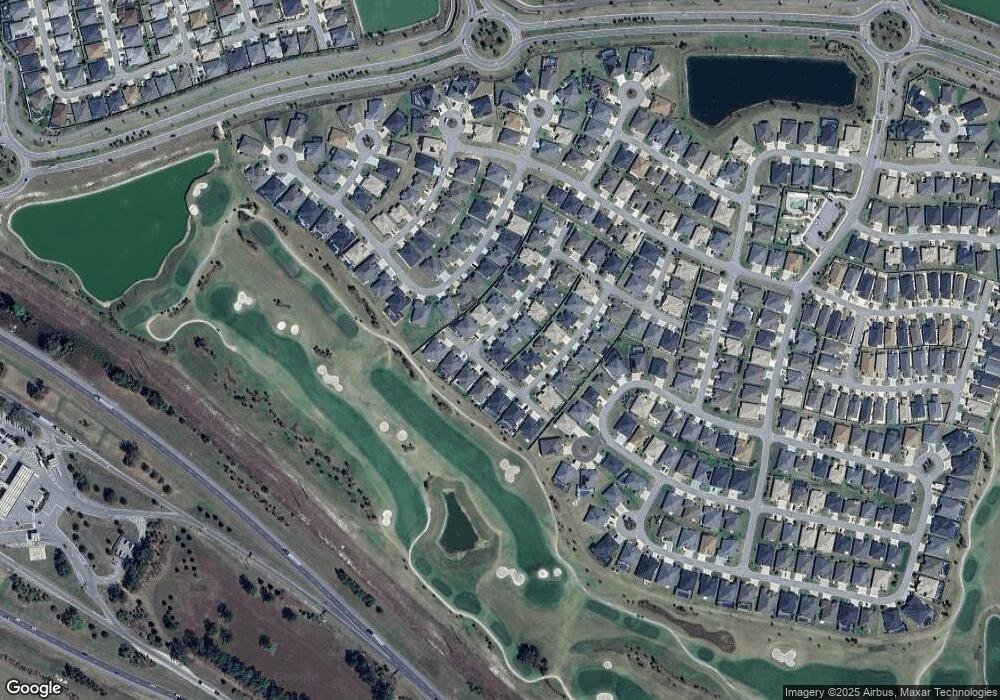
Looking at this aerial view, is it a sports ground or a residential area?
residential area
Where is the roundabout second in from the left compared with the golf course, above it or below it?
above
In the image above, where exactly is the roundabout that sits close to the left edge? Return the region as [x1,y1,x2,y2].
[0,135,31,199]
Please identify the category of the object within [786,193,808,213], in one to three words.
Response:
swimming pool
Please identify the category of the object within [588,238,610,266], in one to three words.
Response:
house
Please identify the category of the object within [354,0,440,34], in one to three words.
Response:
pond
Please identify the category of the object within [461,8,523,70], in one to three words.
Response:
roundabout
